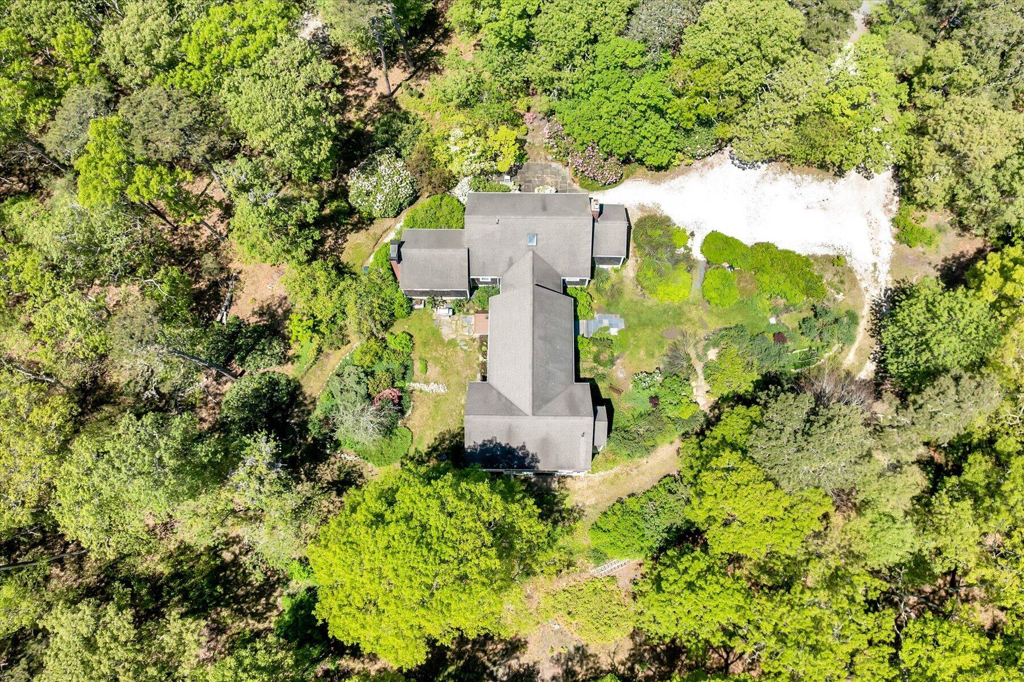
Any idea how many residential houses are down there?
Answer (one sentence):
Just 1 residential house appears in this view.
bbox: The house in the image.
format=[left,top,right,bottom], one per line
[389,192,627,481]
